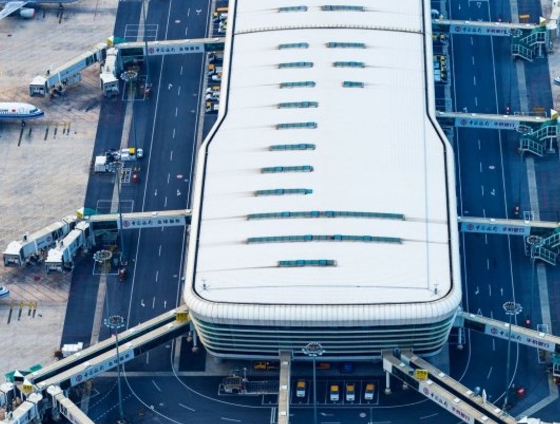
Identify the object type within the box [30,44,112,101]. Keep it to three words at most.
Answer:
jet bridge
